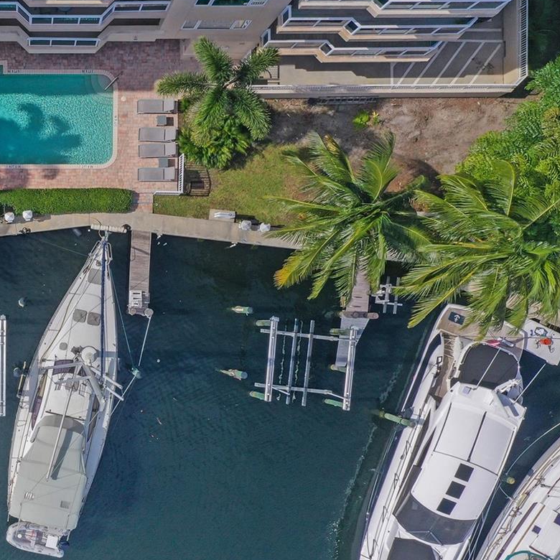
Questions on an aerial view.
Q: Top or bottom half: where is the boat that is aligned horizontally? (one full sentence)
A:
Seen from above, the boat that is aligned horizontally lies in the bottom half of the view.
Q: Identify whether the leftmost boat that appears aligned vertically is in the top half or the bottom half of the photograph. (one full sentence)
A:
It is in the bottom half that the leftmost boat that appears aligned vertically appears.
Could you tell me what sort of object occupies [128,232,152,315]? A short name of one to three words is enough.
pier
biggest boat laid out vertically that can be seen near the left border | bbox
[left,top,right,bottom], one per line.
[7,227,125,543]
